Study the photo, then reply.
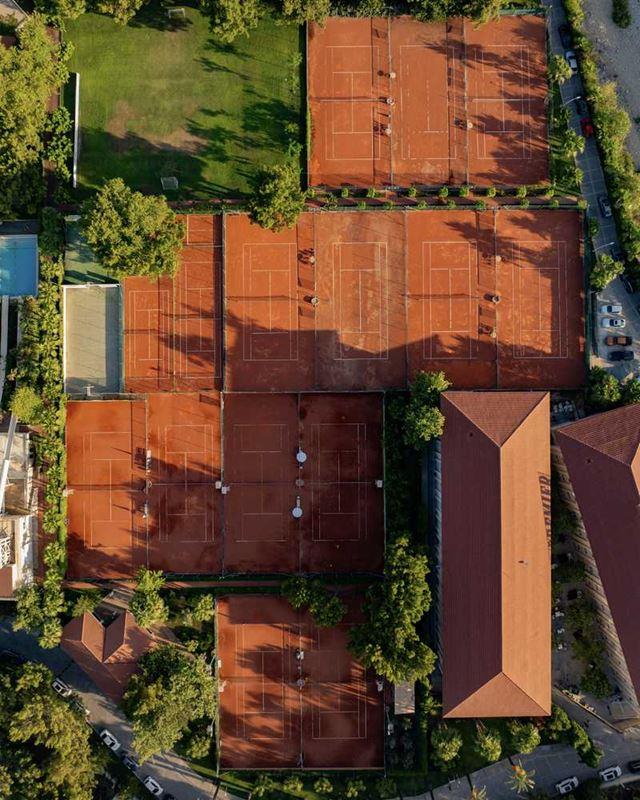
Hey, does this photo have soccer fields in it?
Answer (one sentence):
Yes, there is a soccer field in the image.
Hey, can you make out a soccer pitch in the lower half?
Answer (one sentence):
No, no soccer pitch can be made out in the lower half.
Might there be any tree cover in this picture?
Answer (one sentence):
Yes, there's tree cover in this view.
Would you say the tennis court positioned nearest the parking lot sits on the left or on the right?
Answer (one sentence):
The tennis court positioned nearest the parking lot appears in the right half of the scene.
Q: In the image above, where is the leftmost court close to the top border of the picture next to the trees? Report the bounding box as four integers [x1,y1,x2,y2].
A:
[309,16,391,186]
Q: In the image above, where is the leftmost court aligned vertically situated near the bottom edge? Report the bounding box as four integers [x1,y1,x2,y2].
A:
[218,596,301,770]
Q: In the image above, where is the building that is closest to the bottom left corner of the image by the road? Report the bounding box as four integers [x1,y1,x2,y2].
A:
[59,602,159,705]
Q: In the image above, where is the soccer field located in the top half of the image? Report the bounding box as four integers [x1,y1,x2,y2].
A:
[76,9,301,192]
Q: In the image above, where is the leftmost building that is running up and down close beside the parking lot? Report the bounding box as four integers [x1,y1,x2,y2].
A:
[429,391,551,718]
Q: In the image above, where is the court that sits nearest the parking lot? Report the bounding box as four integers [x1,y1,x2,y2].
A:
[497,210,586,390]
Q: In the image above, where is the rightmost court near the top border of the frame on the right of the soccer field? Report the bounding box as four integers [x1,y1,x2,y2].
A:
[467,16,548,186]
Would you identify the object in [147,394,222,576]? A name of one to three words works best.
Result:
tennis court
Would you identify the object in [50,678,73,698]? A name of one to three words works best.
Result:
car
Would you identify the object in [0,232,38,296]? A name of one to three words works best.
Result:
swimming pool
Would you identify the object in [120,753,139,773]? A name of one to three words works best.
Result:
car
